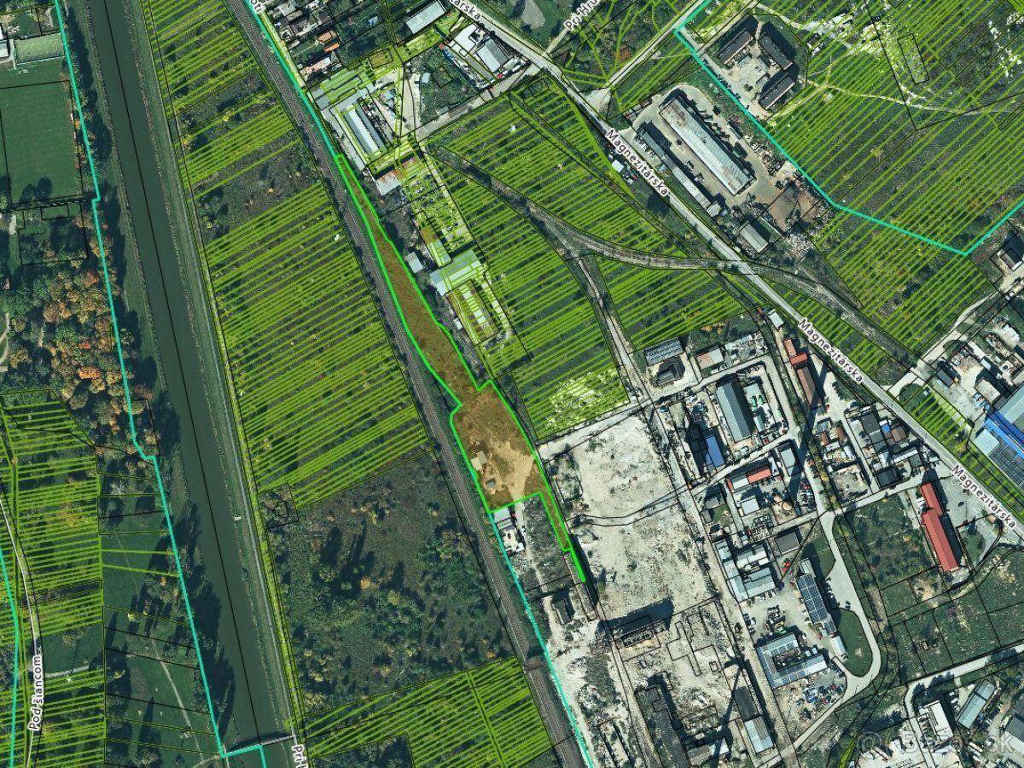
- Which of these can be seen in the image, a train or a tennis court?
tennis court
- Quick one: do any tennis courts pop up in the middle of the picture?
No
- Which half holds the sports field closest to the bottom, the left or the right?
left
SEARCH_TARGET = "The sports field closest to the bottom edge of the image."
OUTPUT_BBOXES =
[0,81,82,207]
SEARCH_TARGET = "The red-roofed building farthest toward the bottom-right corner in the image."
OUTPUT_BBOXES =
[923,512,960,573]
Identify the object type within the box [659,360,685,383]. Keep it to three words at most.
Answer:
house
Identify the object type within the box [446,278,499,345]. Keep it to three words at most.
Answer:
building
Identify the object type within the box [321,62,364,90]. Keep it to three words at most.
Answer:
building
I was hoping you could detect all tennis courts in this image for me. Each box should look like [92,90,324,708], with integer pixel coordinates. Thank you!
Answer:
[16,33,64,64]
